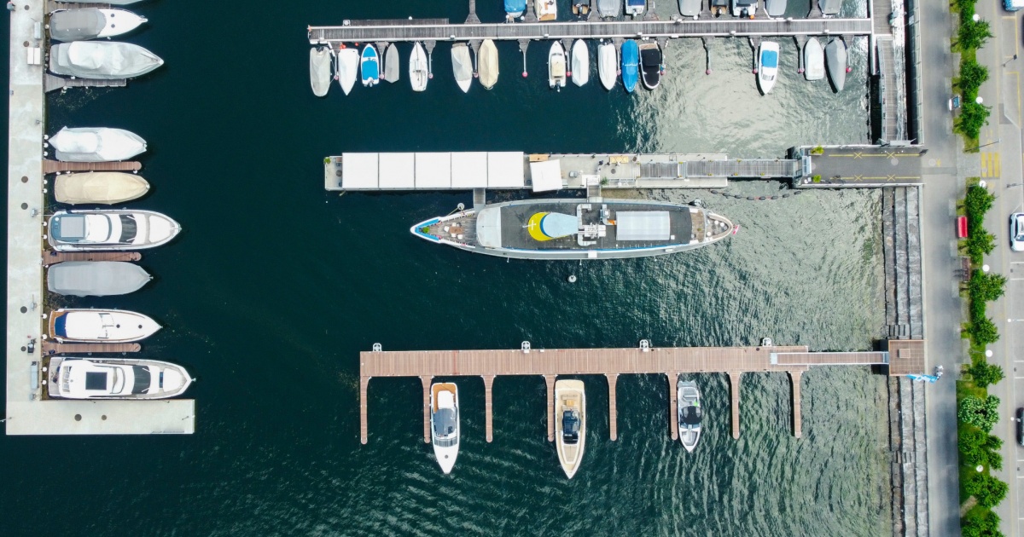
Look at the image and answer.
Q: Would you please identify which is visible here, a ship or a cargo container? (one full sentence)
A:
There is a ship in the scene.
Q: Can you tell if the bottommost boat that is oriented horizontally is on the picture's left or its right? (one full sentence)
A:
The bottommost boat that is oriented horizontally appears in the left half of the scene.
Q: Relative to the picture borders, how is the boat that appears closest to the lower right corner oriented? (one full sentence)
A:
In this picture, the boat that appears closest to the lower right corner lies up and down.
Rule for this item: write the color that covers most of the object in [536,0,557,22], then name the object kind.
white boat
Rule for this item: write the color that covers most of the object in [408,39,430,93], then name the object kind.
white boat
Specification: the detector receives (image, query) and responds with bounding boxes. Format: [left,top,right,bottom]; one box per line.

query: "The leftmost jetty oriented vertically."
[6,0,197,434]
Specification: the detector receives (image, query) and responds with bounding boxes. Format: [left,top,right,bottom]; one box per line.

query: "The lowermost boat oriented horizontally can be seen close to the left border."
[43,351,194,401]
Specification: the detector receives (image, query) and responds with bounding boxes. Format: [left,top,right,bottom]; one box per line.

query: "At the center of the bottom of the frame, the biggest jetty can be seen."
[360,338,808,444]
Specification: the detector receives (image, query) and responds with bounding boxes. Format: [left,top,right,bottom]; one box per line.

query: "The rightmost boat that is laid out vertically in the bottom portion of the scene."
[676,374,700,452]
